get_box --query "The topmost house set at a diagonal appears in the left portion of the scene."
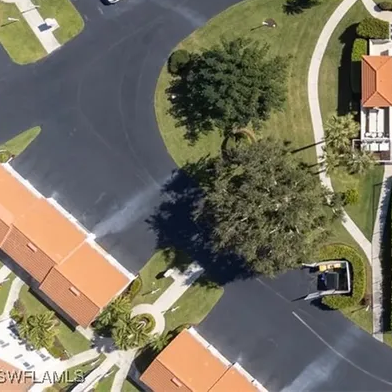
[0,156,136,327]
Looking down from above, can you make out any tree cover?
Yes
